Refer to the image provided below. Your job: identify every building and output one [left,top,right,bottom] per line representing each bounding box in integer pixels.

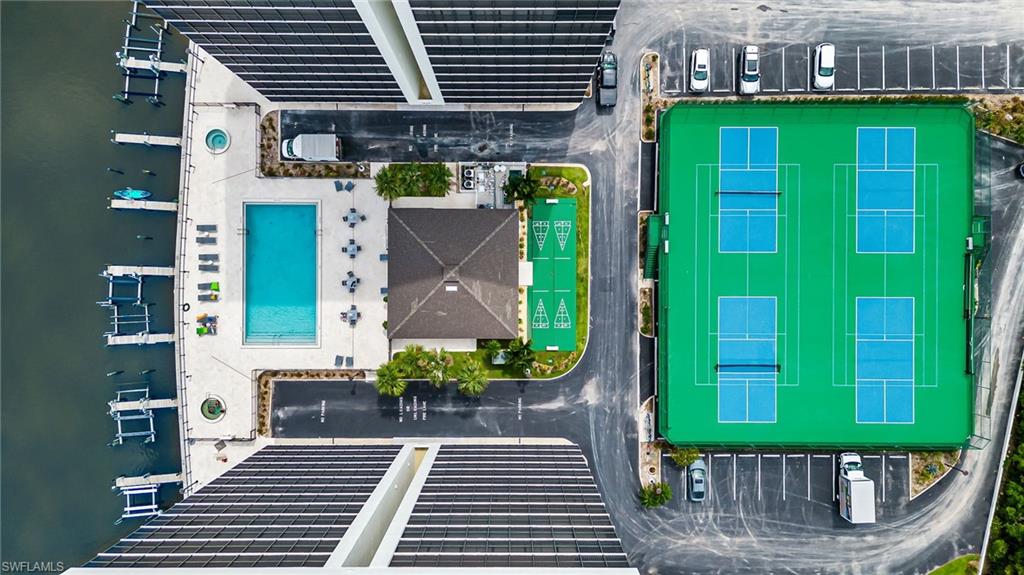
[64,444,641,575]
[387,207,532,339]
[142,0,621,105]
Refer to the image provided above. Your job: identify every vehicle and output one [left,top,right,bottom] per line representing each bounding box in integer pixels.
[689,48,711,92]
[738,47,761,94]
[812,45,836,91]
[839,451,875,524]
[597,52,619,107]
[603,23,613,47]
[687,457,709,502]
[282,134,345,162]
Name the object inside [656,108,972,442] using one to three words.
sports court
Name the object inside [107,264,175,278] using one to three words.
pier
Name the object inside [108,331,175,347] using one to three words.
pier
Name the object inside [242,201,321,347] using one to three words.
swimming pool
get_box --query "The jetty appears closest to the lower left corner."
[116,470,183,490]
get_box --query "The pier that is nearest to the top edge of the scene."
[126,58,188,76]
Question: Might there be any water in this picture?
Yes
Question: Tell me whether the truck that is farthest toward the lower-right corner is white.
Yes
